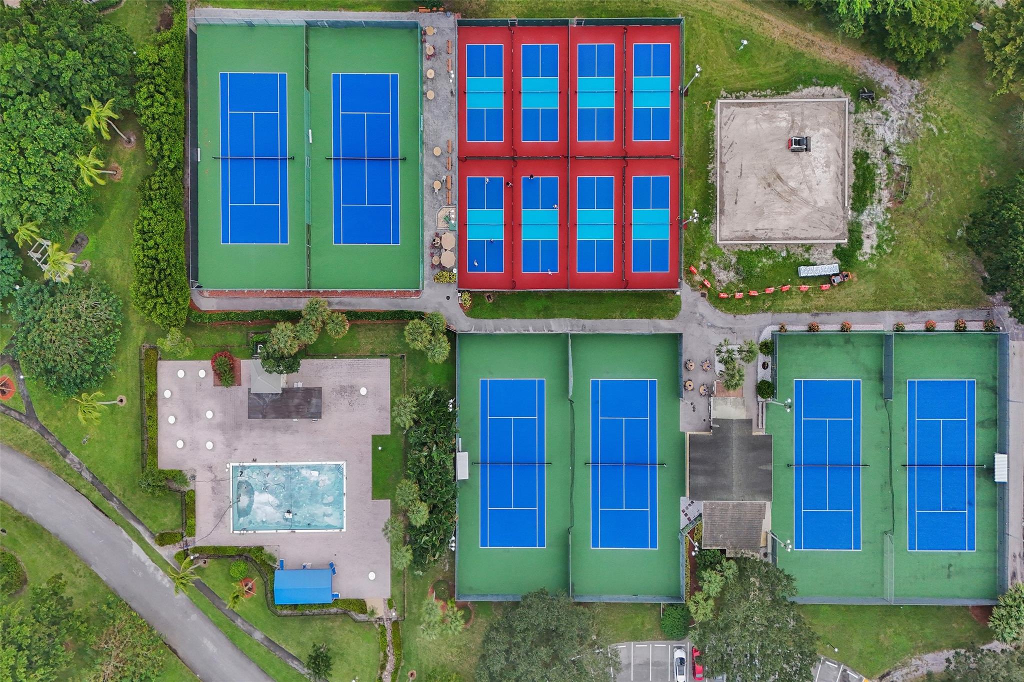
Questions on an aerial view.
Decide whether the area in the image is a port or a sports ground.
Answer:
sports ground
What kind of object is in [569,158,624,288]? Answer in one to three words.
sports court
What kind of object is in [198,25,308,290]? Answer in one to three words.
tennis court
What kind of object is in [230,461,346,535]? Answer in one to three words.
swimming pool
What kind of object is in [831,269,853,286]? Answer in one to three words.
work vehicle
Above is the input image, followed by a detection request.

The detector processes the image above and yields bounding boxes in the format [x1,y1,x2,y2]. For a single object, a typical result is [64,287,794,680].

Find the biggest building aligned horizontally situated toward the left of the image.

[248,387,324,419]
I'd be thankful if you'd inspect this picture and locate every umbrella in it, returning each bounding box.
[439,249,456,270]
[440,231,456,251]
